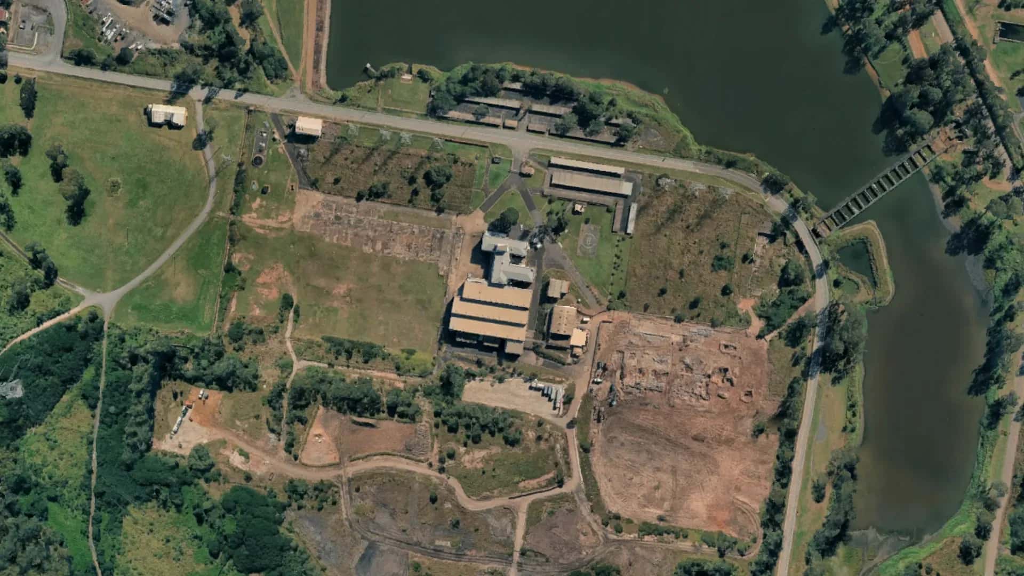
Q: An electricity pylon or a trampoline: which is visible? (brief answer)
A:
electricity pylon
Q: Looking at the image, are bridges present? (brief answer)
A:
Yes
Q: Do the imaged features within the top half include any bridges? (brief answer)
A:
Yes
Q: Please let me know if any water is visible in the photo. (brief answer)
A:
Yes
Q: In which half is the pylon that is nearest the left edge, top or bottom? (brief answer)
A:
bottom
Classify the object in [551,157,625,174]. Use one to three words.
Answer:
shed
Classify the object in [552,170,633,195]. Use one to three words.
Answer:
shed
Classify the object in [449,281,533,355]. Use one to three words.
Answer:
building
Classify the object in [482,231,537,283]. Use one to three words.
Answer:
building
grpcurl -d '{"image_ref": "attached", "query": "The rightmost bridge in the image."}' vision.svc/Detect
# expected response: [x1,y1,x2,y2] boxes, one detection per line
[815,140,942,237]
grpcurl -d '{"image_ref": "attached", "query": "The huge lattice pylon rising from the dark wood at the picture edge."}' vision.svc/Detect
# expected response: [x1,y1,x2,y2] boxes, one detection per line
[5,381,33,406]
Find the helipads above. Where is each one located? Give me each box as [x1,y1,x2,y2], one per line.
[578,225,600,256]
